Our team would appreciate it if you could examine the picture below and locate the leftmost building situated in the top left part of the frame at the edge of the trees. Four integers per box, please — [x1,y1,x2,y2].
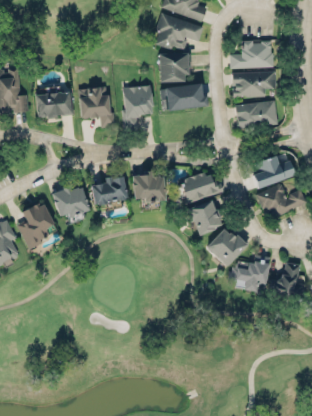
[0,66,28,114]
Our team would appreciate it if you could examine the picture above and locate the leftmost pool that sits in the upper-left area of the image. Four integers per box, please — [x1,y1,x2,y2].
[38,69,66,86]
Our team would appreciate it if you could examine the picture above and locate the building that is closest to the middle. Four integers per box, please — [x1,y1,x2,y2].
[134,175,167,201]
